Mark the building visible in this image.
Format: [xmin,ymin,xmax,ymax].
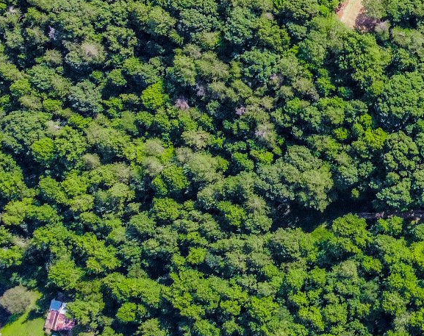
[45,298,75,332]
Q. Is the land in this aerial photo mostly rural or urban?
rural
